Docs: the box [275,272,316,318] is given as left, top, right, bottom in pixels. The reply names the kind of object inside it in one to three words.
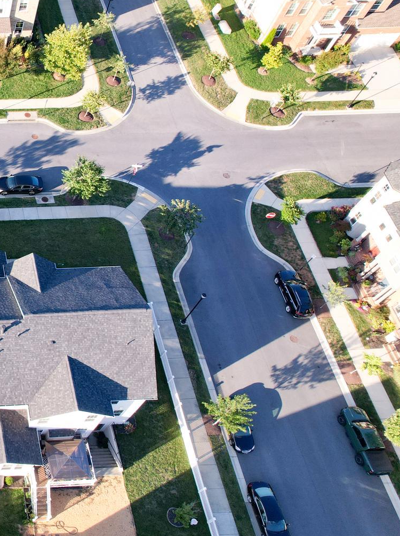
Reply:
car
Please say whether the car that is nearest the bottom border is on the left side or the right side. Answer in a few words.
right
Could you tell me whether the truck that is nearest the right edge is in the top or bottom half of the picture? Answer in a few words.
bottom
